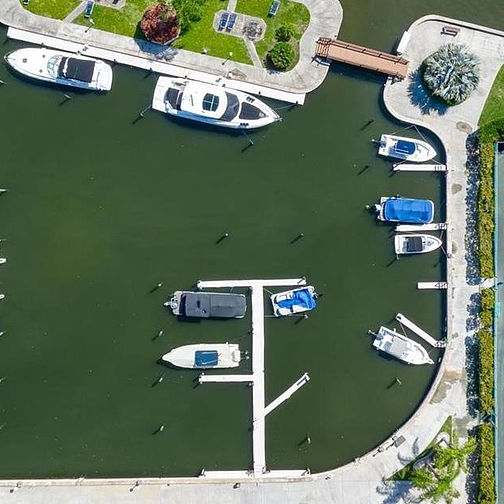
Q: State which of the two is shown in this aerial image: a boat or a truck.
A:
boat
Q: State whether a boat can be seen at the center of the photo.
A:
Yes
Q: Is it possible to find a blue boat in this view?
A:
Yes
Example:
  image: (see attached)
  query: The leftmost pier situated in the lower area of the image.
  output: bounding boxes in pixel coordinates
[198,277,310,476]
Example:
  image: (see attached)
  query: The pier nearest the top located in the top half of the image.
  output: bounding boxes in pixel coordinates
[7,27,305,103]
